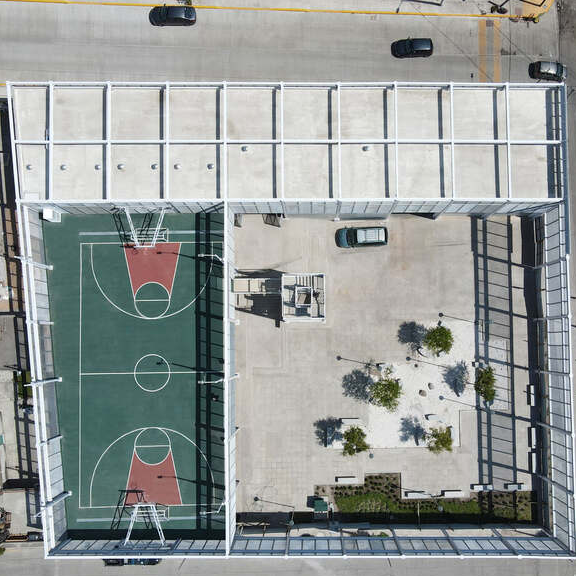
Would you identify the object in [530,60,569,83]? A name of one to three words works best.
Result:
car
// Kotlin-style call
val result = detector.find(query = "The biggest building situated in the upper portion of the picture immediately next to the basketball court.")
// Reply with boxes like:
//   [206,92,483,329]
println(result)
[8,81,571,254]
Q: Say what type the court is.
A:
basketball court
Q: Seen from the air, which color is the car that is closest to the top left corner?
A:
black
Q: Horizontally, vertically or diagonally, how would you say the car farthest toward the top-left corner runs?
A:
horizontally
